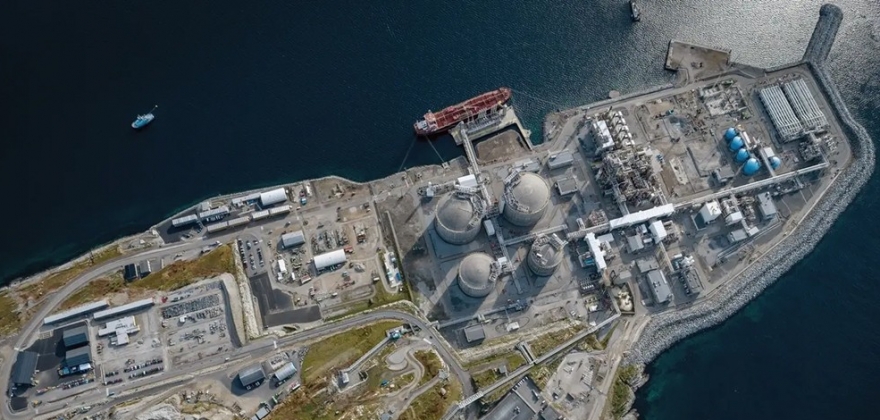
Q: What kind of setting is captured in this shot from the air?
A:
port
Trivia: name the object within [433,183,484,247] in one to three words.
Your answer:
storage tank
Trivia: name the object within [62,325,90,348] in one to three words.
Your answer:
building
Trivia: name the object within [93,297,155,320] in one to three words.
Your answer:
shed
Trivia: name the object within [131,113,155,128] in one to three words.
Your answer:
boat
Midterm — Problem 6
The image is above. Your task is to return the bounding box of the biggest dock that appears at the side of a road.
[449,106,531,147]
